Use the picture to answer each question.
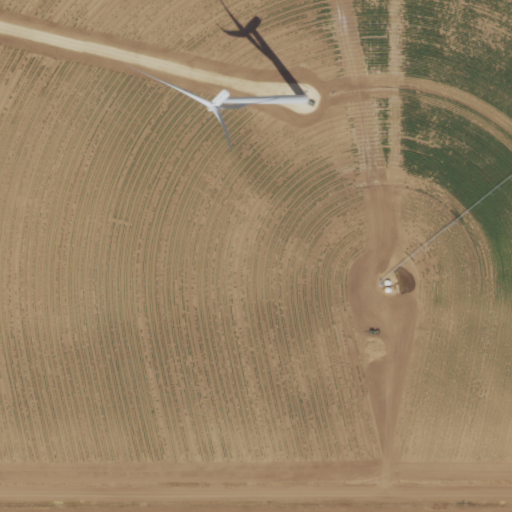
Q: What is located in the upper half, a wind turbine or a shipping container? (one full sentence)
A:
The feature located in the upper half is a wind turbine.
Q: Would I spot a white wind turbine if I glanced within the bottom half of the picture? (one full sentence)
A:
No, there is no white wind turbine within the bottom half of the picture.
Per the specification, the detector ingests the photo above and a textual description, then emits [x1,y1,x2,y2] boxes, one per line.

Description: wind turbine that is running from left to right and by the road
[129,67,314,150]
